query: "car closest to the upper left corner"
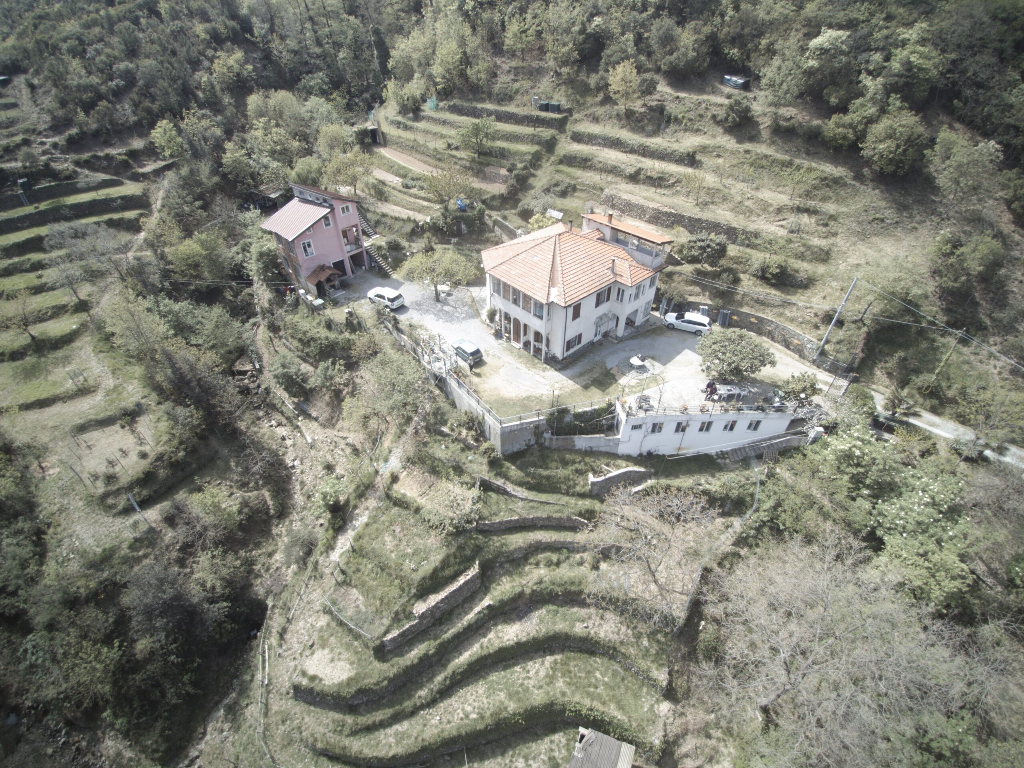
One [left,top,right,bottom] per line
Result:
[365,285,406,310]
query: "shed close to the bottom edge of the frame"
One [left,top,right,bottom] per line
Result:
[567,728,636,768]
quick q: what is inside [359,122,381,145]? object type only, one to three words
shed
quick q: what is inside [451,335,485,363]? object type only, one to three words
car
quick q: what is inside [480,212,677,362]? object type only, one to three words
house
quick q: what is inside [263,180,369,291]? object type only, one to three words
house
